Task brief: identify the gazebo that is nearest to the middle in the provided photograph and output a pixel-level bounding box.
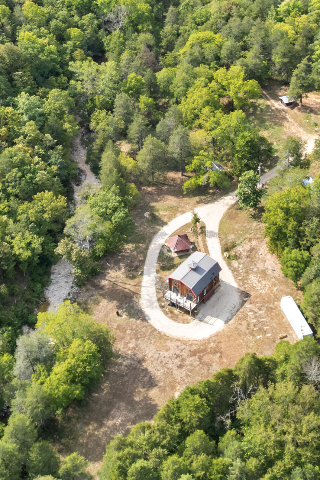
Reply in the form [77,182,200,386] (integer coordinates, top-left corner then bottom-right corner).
[167,233,193,257]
